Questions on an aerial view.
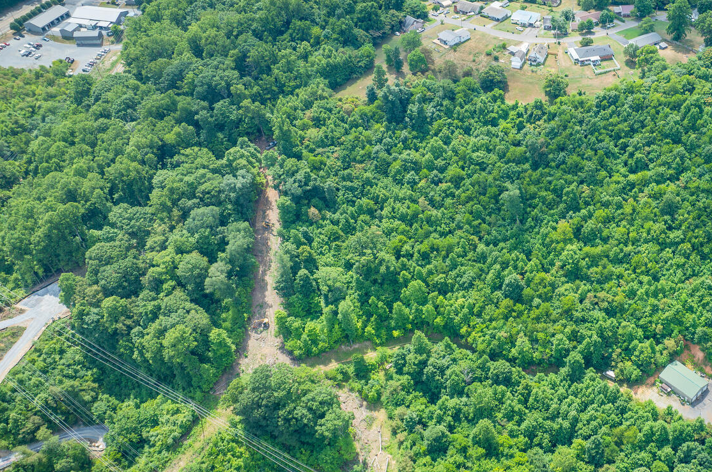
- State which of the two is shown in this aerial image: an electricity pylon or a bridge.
electricity pylon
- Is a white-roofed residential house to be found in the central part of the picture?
No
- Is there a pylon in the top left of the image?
No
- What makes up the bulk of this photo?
trees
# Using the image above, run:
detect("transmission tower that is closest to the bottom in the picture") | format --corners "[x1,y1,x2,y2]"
[182,393,209,432]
